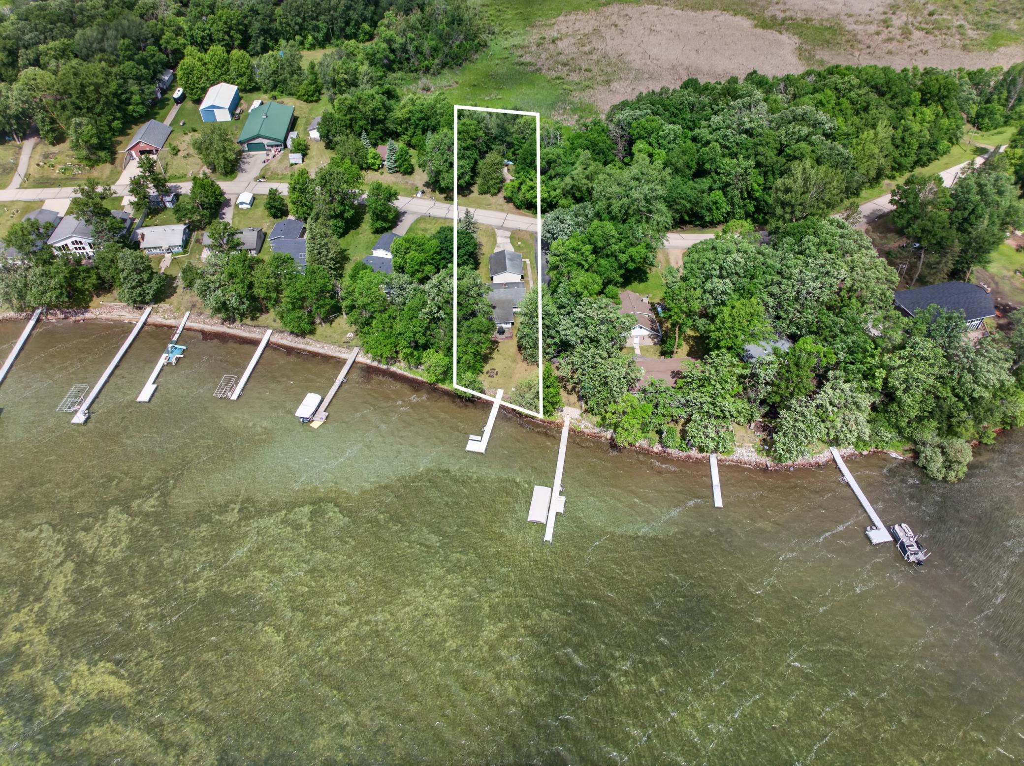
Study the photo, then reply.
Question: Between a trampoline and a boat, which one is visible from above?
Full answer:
The image shows a boat.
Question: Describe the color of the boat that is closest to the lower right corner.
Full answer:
From above, the boat that is closest to the lower right corner appears white.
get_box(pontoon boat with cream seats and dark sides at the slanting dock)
[891,524,927,567]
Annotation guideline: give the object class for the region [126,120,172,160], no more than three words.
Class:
building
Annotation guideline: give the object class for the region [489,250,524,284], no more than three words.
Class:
building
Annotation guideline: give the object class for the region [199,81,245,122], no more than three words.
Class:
barn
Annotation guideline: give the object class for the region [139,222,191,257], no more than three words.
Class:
house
